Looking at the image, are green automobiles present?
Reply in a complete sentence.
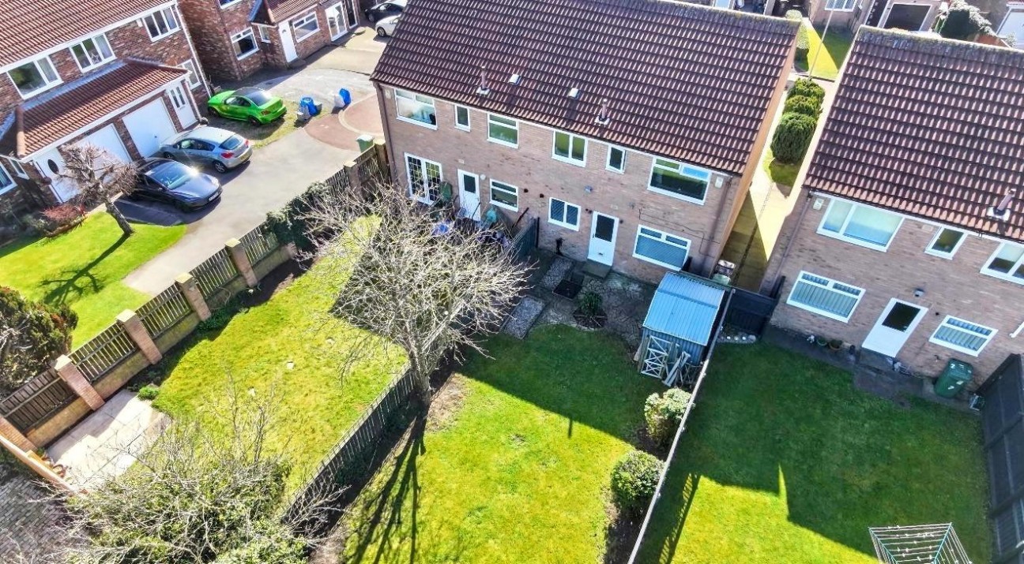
Yes, the photo shows a green automobile.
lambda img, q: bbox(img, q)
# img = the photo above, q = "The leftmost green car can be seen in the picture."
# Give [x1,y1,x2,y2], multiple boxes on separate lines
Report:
[200,83,289,127]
